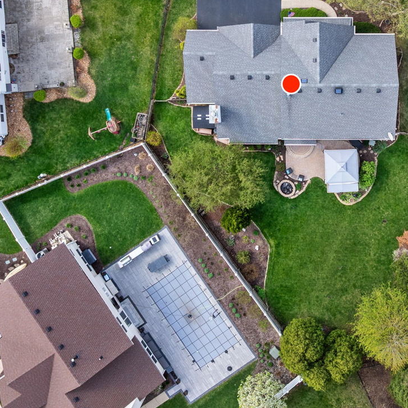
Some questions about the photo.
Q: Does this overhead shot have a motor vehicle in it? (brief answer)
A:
No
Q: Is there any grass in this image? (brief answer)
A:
Yes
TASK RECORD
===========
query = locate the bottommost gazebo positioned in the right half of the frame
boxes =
[323,147,360,192]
